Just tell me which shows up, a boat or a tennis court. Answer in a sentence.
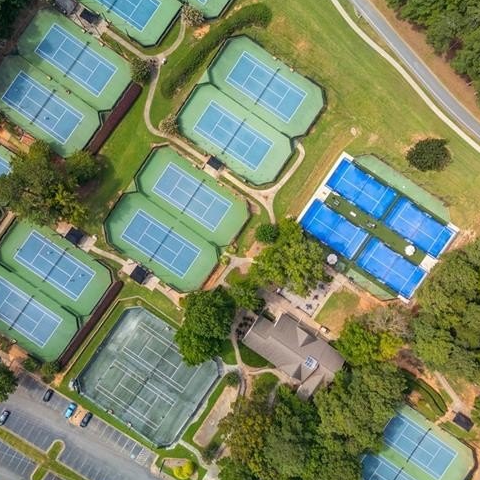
The image shows a tennis court.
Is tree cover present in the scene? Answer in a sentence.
Yes, there is tree cover in the image.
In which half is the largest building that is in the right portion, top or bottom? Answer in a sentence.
The bottom half of the photo is where the largest building that is in the right portion is.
